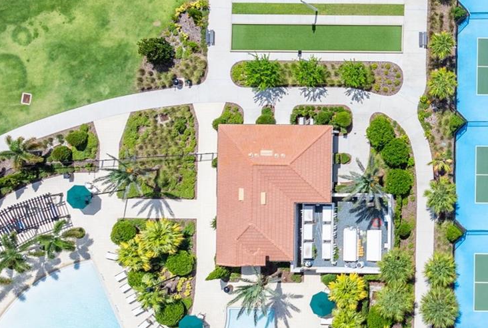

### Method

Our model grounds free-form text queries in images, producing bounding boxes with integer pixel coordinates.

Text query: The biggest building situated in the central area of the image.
[218,124,333,267]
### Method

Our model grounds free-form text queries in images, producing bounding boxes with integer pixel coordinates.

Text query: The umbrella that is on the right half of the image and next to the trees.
[311,292,335,316]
